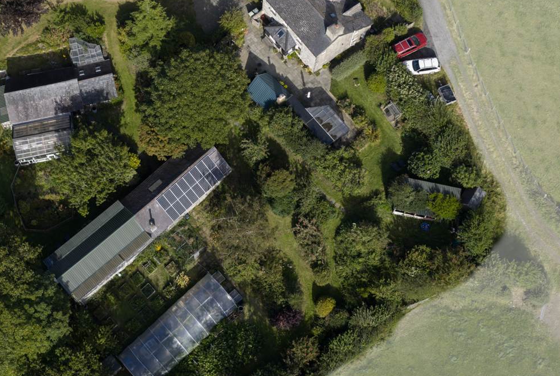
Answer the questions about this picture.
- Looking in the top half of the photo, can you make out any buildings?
Yes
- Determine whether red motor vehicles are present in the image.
Yes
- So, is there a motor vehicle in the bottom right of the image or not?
No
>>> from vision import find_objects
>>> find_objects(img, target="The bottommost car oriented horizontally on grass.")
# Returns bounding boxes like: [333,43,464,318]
[404,56,441,75]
